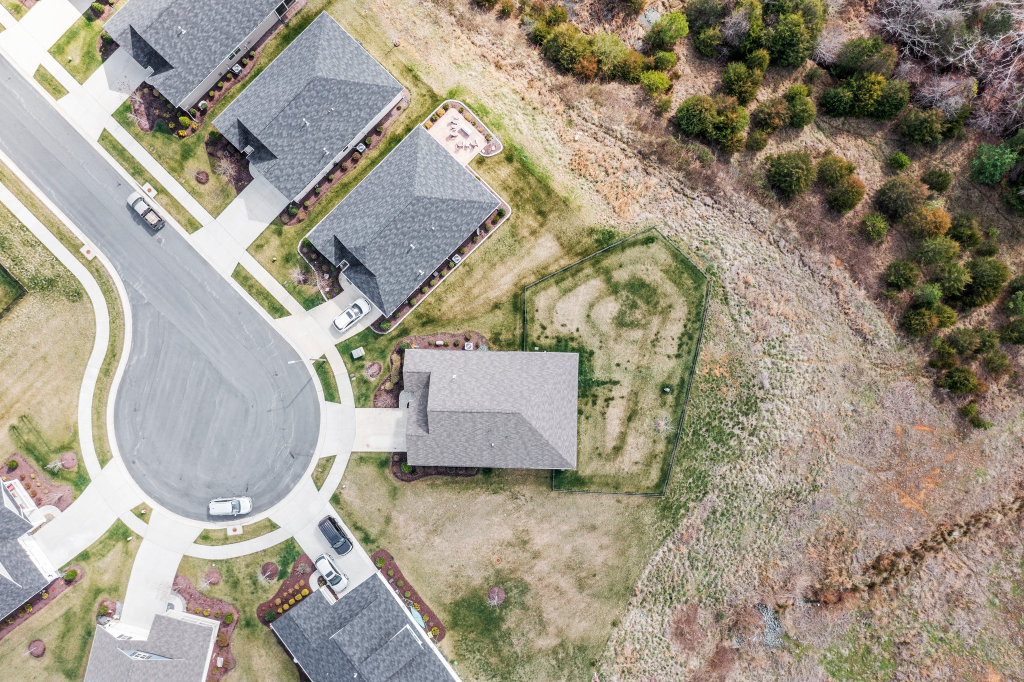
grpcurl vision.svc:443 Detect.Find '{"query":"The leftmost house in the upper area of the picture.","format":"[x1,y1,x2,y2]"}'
[102,0,280,109]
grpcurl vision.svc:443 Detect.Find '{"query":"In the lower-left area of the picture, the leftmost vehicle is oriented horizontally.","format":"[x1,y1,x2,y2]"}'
[207,494,256,517]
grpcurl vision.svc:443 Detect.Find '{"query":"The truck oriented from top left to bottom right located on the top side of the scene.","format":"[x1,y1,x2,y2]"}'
[123,189,171,237]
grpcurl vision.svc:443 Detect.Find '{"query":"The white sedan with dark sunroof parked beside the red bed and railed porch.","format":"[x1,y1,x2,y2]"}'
[315,550,349,594]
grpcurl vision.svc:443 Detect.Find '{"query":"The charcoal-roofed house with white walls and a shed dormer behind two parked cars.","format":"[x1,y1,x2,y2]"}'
[270,568,452,682]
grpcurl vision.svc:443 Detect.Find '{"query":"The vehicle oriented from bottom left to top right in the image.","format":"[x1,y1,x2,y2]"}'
[332,297,374,334]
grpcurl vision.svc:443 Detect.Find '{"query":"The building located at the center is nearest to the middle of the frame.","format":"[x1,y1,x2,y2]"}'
[402,346,579,469]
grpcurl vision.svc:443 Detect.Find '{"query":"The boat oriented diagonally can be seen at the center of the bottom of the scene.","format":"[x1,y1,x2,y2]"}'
[410,607,426,629]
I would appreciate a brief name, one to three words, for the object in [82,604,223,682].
house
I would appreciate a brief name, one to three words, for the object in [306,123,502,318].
house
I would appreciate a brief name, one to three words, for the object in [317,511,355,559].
car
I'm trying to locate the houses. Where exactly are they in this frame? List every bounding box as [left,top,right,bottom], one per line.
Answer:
[0,475,60,619]
[212,10,405,205]
[306,123,502,318]
[402,346,579,469]
[270,568,452,682]
[102,0,280,109]
[82,604,223,682]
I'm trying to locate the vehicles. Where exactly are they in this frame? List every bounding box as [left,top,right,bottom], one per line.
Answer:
[317,511,355,559]
[123,189,171,237]
[315,550,349,594]
[332,297,374,334]
[207,494,256,517]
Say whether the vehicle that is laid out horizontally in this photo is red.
No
